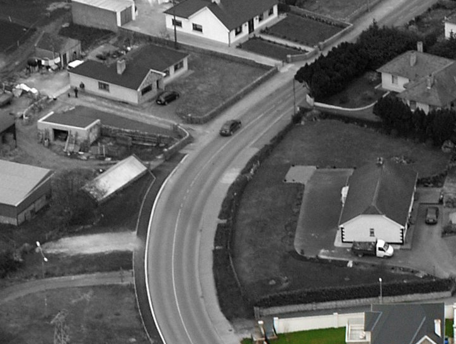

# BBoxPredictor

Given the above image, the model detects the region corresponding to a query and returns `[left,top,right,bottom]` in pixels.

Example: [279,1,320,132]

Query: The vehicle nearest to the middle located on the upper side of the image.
[219,121,241,136]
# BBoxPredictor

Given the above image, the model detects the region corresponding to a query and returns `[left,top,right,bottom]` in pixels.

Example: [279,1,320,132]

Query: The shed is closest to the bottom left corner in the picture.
[0,159,59,228]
